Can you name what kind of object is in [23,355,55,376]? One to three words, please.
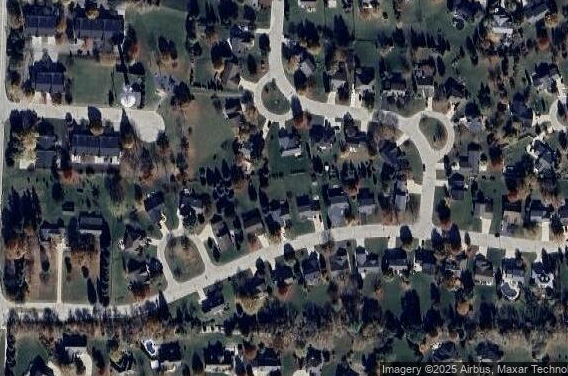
house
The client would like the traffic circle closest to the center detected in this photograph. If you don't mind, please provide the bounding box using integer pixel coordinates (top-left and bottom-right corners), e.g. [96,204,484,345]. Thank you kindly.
[252,71,300,122]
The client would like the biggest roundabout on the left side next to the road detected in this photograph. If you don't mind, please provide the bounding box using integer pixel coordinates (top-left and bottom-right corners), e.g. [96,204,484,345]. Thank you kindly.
[156,230,212,291]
